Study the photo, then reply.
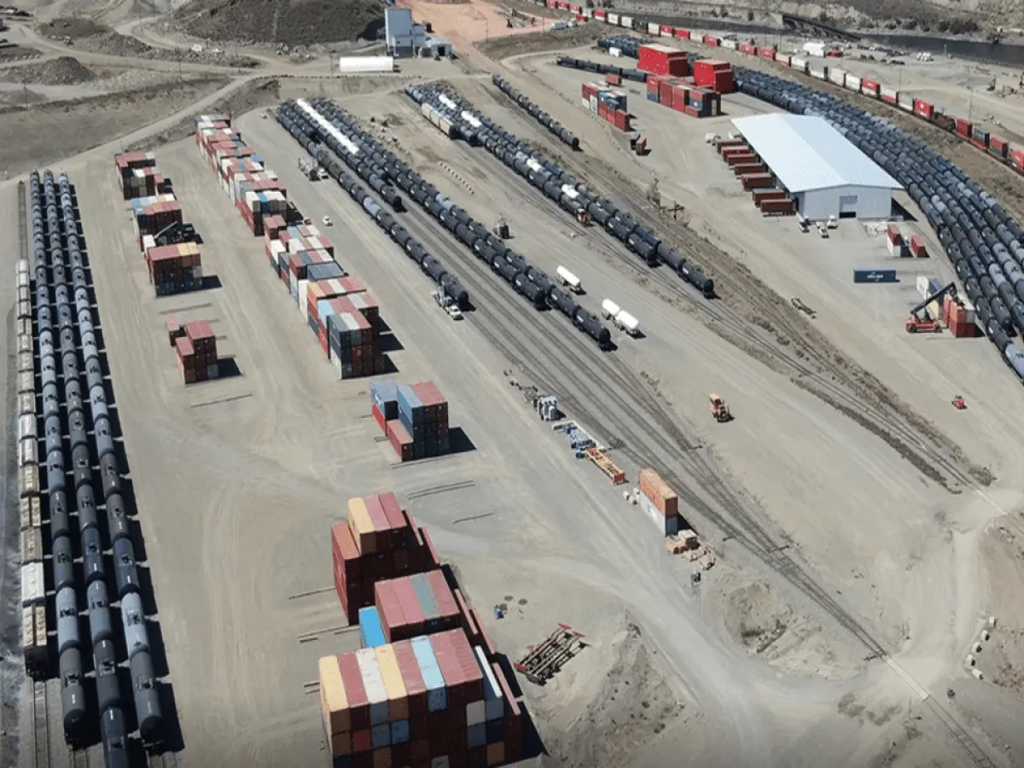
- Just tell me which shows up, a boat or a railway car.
railway car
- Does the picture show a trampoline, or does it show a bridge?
bridge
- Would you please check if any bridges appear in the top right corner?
Yes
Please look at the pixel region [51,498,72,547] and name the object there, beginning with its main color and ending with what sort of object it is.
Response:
gray rail car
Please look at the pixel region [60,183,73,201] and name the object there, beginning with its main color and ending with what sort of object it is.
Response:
gray rail car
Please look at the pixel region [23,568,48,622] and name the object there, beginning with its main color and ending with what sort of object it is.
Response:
white rail car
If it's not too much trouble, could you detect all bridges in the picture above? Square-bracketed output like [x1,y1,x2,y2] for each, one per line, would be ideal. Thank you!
[766,10,864,45]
